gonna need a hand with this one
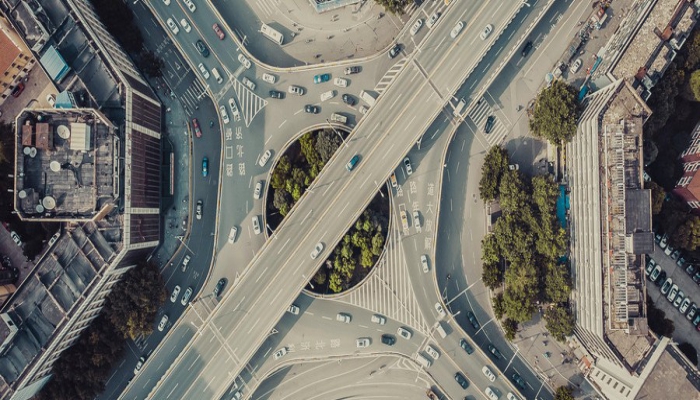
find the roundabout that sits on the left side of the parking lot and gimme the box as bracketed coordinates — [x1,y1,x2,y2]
[115,0,557,400]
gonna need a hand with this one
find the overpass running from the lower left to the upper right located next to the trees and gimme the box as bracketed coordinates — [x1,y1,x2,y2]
[139,0,530,400]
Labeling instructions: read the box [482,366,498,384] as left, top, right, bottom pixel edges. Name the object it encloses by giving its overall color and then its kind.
white car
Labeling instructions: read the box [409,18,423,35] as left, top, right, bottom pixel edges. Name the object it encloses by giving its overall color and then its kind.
white car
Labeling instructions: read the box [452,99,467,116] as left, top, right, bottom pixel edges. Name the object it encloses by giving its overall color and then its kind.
white vehicle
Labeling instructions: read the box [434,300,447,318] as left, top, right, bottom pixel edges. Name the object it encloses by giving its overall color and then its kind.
white vehicle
